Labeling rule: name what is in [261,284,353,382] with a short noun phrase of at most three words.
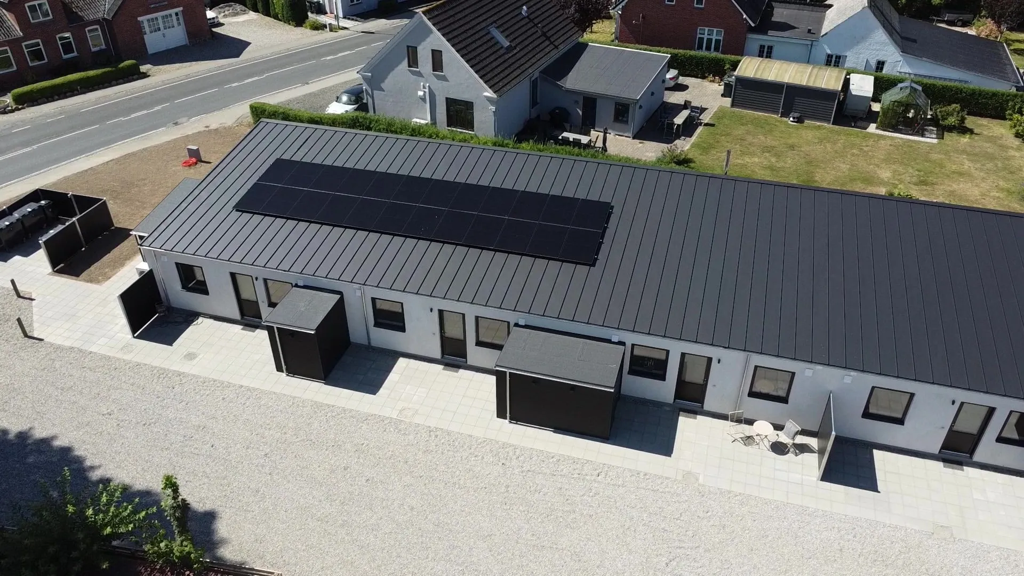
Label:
shed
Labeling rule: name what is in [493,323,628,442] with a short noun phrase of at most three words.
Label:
shed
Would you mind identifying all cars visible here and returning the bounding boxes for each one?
[203,0,226,22]
[666,66,686,88]
[325,83,373,116]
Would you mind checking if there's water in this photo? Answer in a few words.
No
